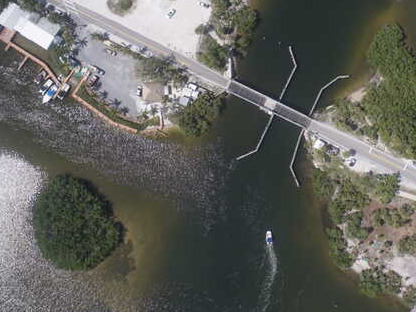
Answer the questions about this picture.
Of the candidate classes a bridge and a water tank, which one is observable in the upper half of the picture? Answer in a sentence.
The one visible in the upper half of the picture is a bridge.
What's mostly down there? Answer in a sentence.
Most of the picture is covered by water.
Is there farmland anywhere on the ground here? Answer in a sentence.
No, there is no farmland in the image.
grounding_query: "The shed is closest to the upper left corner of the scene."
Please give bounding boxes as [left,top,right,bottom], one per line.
[0,2,29,32]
